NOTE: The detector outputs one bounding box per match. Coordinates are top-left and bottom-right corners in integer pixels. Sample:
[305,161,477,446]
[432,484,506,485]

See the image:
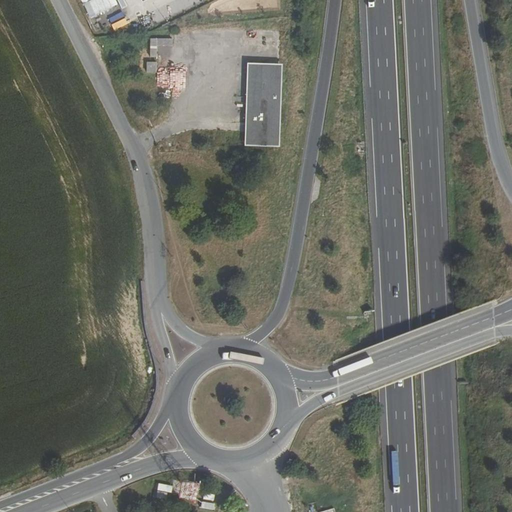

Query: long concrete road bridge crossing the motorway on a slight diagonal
[332,300,498,406]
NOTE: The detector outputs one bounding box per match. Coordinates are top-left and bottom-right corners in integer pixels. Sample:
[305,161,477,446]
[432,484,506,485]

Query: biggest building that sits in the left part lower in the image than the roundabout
[178,482,200,504]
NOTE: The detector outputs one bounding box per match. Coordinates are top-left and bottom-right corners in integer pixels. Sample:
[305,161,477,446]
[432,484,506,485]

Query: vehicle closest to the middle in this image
[222,352,264,364]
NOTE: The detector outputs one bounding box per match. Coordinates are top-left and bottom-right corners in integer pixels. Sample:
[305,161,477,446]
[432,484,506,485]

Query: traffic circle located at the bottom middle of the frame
[136,313,325,476]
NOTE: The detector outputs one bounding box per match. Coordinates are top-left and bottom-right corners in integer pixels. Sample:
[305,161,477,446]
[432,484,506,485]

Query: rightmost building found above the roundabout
[245,62,282,147]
